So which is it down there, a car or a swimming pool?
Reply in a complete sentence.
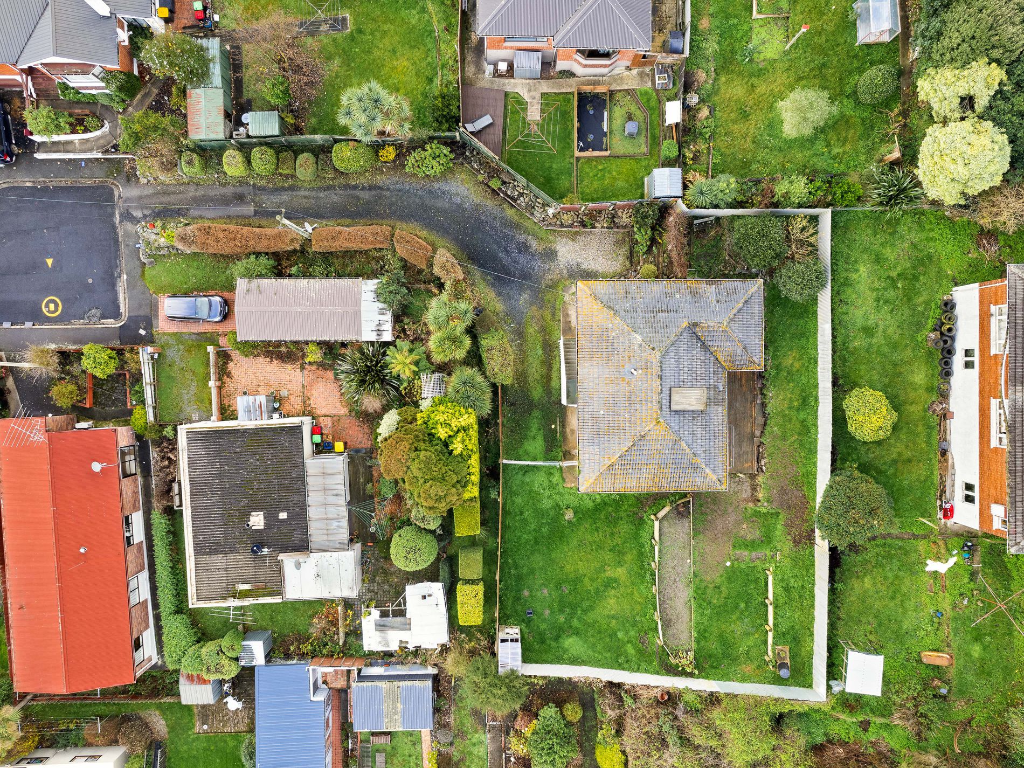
There is a car in the scene.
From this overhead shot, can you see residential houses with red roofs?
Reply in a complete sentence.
Yes, there's a residential house with a red roof down there.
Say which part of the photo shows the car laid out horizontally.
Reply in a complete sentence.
The car laid out horizontally is located in the left region of the scene.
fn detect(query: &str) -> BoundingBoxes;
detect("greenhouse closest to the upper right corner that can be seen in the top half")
[845,0,900,55]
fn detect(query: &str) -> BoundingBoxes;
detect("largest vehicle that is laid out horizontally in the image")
[164,292,231,324]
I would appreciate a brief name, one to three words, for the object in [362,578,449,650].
shed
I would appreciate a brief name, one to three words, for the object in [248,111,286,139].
shed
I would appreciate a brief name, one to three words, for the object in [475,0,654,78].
house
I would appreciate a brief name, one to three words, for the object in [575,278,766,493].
house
